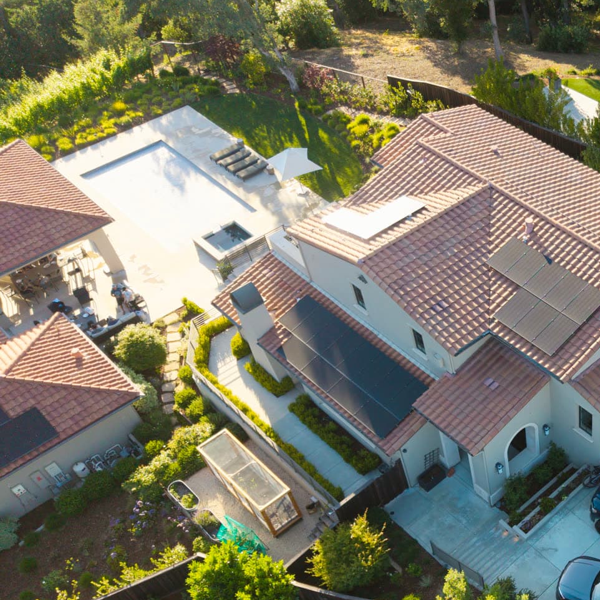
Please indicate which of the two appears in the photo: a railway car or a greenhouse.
greenhouse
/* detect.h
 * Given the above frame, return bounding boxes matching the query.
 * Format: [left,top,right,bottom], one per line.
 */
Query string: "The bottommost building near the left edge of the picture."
[0,311,145,515]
